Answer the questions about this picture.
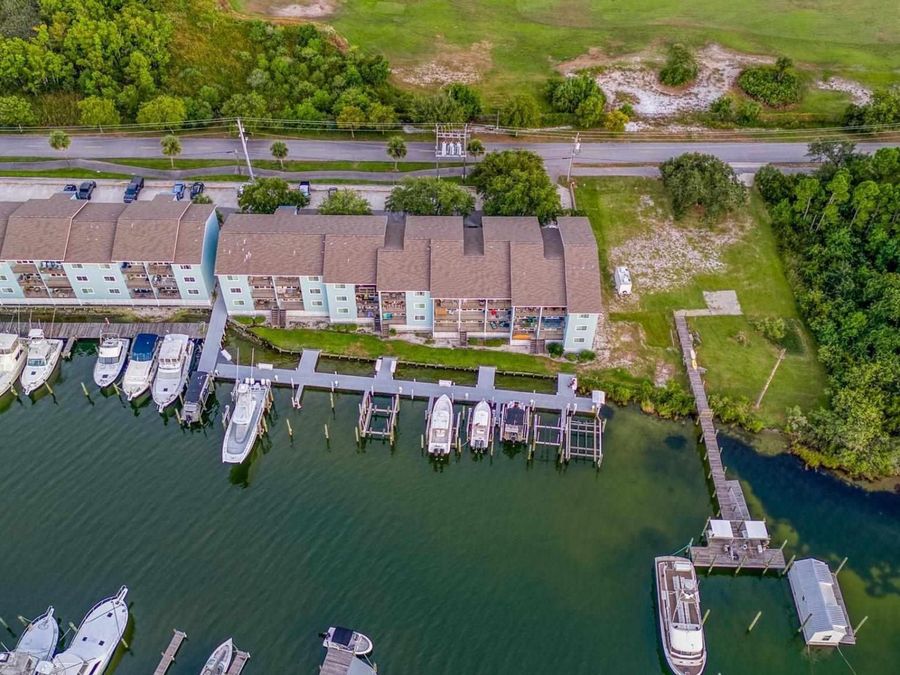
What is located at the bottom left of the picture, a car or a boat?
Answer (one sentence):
What appears at the bottom left of the picture is a boat.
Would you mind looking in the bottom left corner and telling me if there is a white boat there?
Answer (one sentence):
Yes, there is a white boat in the bottom left corner.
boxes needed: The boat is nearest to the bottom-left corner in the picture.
[1,606,56,675]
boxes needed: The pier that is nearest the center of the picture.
[214,350,597,419]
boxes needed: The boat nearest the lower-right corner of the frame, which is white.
[650,559,707,675]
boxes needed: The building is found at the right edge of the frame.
[786,565,858,655]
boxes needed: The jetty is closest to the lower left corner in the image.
[153,626,188,675]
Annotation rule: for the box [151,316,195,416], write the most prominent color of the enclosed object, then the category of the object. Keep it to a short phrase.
white boat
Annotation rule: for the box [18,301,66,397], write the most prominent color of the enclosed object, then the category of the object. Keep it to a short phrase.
white boat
